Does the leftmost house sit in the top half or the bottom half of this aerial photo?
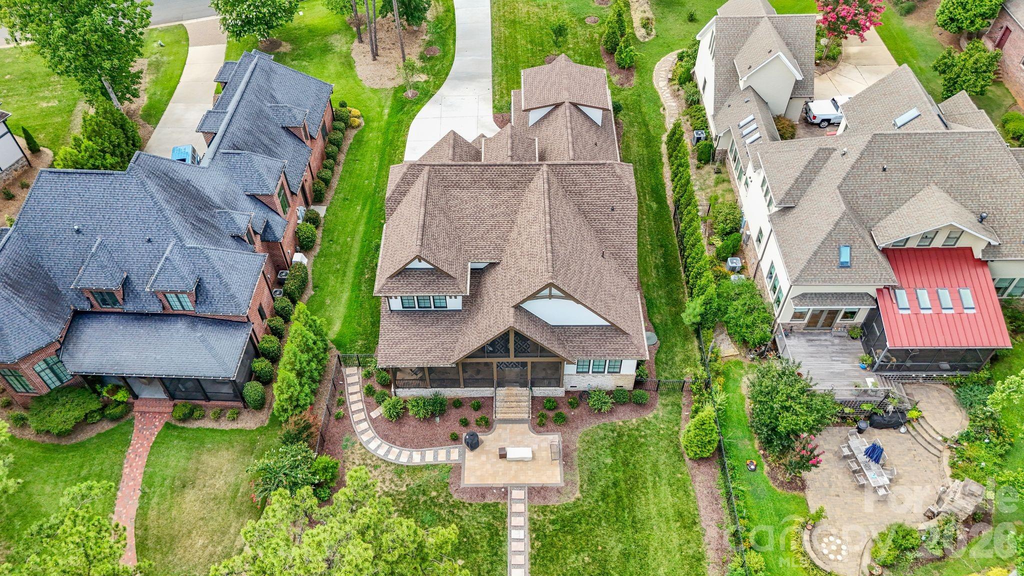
top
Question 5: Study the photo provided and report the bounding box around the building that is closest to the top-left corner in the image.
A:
[0,110,33,181]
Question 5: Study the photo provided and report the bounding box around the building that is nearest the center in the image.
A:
[371,52,651,398]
